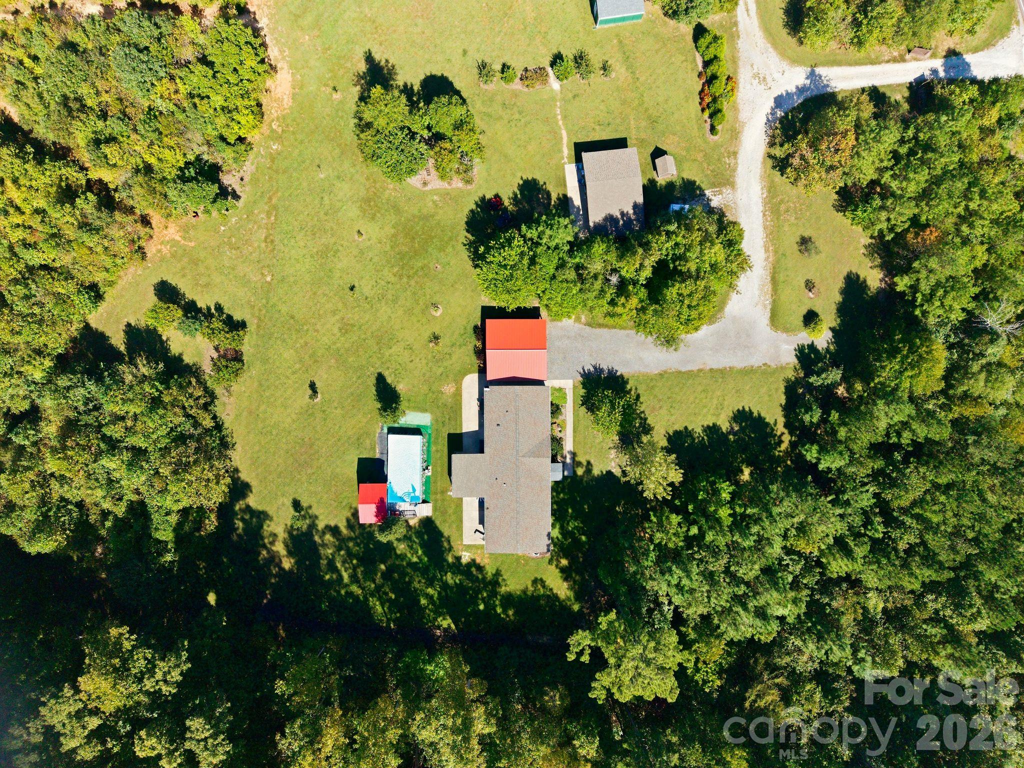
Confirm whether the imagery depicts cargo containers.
No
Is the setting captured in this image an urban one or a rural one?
rural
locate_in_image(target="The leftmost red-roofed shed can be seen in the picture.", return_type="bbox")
[358,481,389,524]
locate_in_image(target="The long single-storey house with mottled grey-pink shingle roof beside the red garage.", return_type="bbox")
[451,386,562,557]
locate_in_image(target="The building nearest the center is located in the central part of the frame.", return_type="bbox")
[485,319,547,381]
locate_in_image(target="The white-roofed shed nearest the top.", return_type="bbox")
[594,0,646,29]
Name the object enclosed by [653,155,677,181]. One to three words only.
shed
